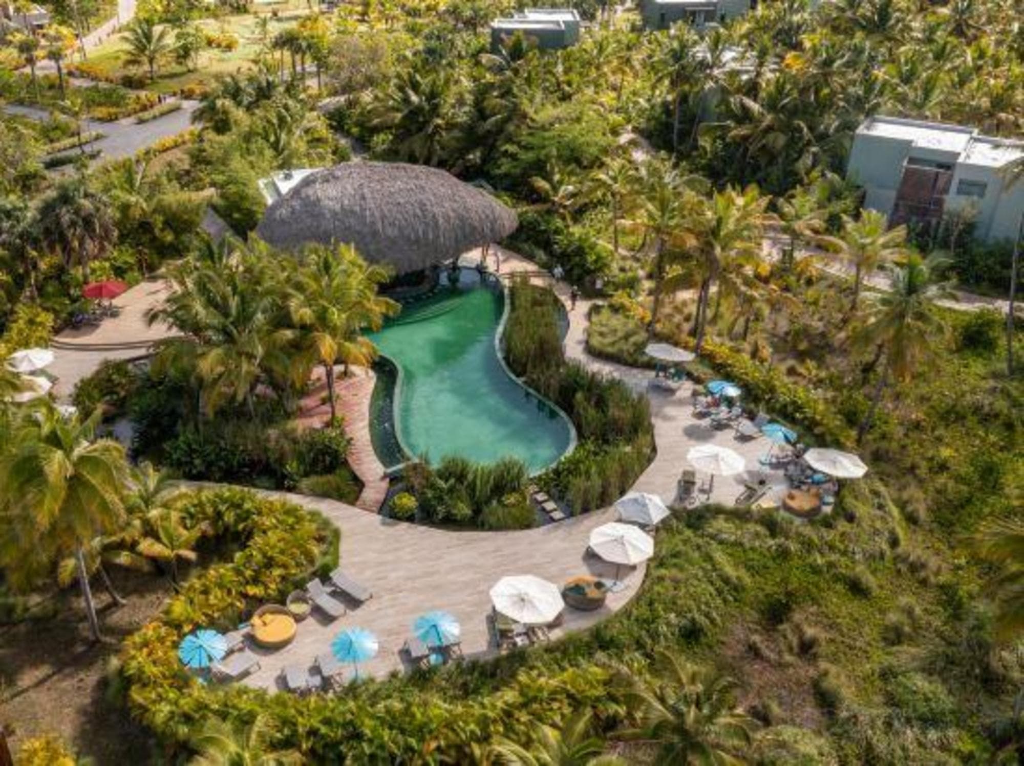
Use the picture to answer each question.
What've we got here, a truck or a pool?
pool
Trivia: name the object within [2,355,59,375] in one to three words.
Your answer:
umbrella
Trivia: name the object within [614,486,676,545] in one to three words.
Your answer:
umbrella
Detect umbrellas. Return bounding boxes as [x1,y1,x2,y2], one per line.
[707,383,741,426]
[78,281,134,326]
[685,446,746,505]
[0,375,57,428]
[491,575,564,649]
[644,347,695,395]
[2,355,59,375]
[330,629,380,690]
[614,486,676,545]
[588,524,656,591]
[804,447,863,504]
[759,423,796,466]
[412,616,460,676]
